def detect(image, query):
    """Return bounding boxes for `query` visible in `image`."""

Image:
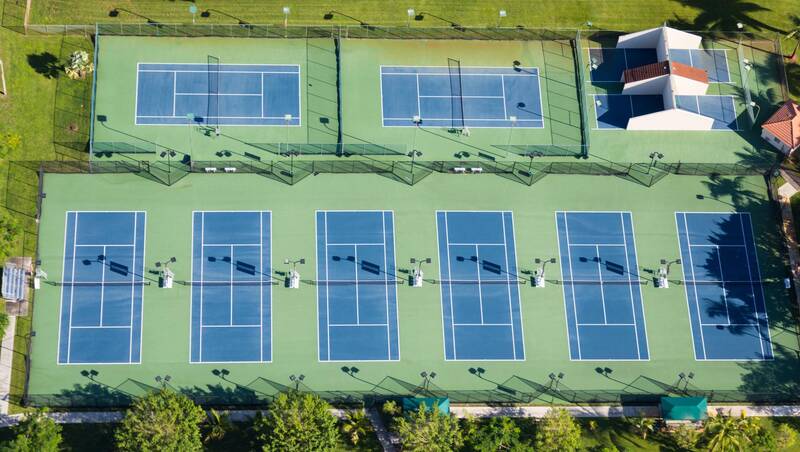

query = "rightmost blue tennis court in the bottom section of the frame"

[674,211,775,361]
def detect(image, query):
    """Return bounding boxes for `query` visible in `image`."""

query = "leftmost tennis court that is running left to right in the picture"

[136,64,299,126]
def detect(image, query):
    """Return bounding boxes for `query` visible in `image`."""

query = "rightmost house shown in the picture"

[762,94,800,157]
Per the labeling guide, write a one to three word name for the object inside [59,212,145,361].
tennis court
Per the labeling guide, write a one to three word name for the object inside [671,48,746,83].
sports court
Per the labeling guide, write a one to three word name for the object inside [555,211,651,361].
tennis court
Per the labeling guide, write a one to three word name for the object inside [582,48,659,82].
sports court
